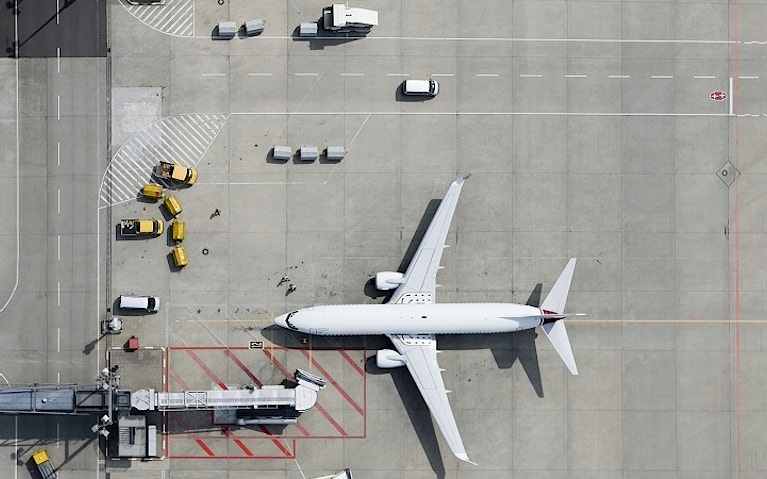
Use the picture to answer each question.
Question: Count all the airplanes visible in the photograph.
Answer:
one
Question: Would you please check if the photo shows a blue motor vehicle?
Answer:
No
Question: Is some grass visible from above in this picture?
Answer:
No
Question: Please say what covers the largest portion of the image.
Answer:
paved ground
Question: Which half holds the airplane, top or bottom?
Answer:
bottom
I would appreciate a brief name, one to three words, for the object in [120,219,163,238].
vehicle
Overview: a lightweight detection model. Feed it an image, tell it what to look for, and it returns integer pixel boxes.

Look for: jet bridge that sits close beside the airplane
[0,366,326,434]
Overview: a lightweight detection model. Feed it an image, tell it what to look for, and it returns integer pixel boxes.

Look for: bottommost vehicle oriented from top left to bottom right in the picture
[31,448,61,479]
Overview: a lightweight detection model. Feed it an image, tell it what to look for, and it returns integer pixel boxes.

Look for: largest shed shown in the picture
[118,412,147,457]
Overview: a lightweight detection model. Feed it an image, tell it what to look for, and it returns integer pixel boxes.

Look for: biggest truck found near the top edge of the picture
[326,4,381,34]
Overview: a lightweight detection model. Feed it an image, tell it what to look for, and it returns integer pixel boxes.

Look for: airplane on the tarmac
[274,174,587,463]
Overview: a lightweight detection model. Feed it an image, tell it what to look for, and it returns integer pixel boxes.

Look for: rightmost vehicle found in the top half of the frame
[401,79,440,97]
